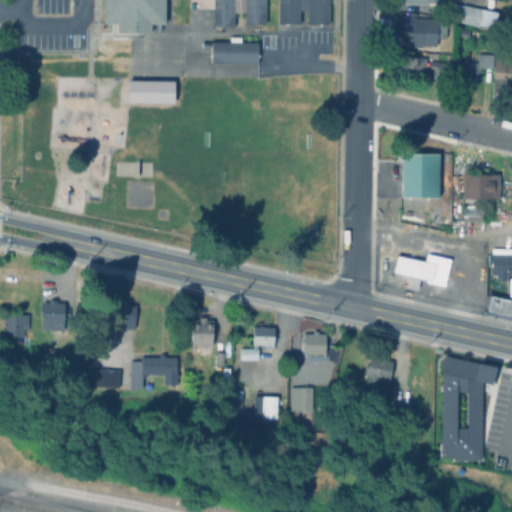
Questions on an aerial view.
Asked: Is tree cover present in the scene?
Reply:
Yes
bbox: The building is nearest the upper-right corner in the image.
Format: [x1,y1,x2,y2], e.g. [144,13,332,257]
[462,6,501,28]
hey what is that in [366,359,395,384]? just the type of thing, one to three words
house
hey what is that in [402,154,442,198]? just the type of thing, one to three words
building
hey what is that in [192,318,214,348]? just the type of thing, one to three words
house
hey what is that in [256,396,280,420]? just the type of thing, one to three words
shed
